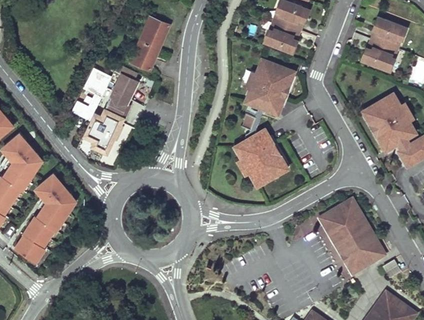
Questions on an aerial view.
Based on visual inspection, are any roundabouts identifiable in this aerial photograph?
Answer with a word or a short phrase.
Yes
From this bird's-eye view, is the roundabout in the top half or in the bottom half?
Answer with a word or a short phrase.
bottom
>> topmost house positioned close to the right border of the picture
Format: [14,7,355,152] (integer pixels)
[368,14,410,54]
